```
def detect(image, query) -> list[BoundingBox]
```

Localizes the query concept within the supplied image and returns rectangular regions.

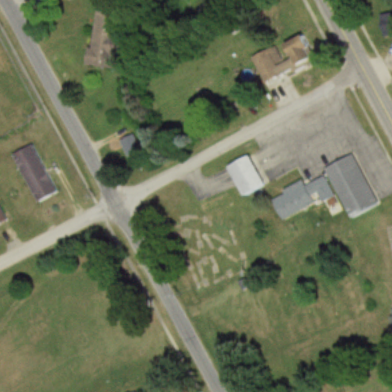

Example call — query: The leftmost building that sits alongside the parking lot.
[226,156,264,198]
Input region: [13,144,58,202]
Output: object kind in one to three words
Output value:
house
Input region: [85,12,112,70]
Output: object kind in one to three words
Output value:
house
